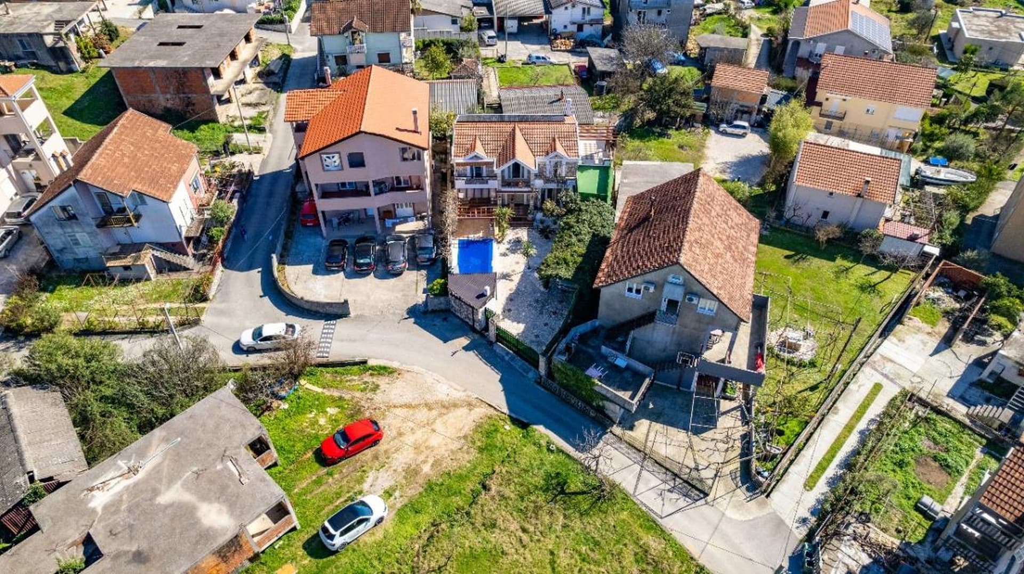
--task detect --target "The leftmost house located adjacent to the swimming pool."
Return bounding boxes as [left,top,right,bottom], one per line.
[284,58,433,240]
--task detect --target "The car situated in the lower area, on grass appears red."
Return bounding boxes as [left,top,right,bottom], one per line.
[318,417,387,467]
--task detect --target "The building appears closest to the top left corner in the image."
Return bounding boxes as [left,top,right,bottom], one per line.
[0,0,120,67]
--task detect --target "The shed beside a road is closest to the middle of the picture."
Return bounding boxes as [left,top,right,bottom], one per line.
[448,273,497,335]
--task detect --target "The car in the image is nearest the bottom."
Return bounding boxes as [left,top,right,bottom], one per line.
[315,493,394,555]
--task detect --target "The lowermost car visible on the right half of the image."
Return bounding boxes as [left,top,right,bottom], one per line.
[715,116,756,137]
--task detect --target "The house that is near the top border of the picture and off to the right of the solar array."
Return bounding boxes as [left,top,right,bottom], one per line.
[923,3,1024,68]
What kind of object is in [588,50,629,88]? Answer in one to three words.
shed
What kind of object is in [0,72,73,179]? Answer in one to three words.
house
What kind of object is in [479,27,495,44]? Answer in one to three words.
car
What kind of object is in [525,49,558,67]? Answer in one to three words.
car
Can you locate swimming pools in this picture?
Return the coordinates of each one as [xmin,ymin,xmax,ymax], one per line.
[447,236,497,290]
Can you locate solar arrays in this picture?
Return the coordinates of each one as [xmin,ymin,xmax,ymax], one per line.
[856,2,891,47]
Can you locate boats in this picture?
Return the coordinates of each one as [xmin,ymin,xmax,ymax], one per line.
[910,161,987,188]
